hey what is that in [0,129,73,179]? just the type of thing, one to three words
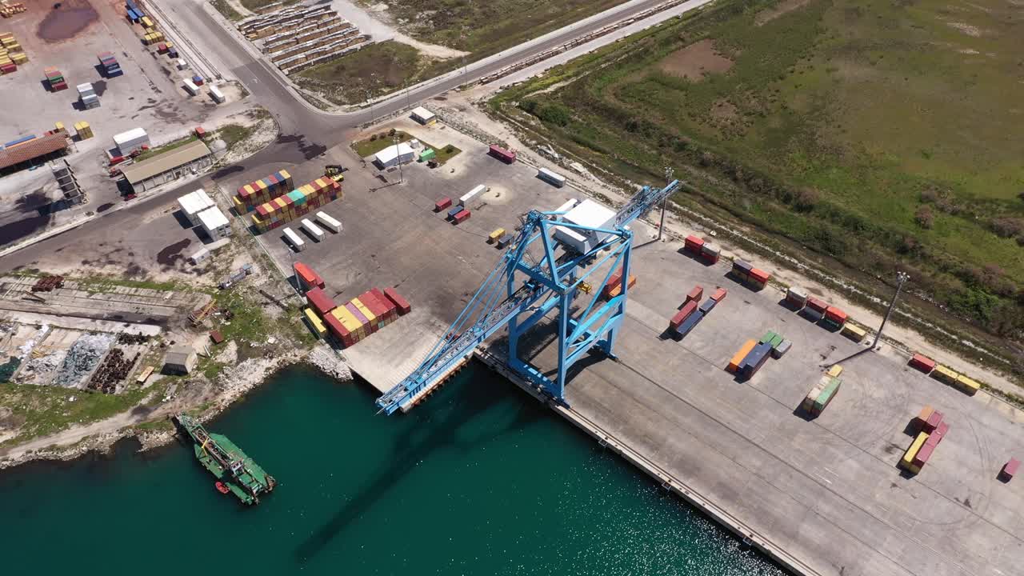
shed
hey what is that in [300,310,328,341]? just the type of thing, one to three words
shipping container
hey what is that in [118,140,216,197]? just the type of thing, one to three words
building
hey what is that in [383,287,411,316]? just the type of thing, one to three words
shipping container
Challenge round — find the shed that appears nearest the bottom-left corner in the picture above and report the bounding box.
[160,343,190,372]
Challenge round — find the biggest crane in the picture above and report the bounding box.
[360,180,685,418]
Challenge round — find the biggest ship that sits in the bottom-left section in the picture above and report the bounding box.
[172,409,276,506]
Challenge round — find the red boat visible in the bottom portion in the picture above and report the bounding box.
[214,481,230,494]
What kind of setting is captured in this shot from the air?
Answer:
port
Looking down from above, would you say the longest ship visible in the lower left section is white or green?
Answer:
green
